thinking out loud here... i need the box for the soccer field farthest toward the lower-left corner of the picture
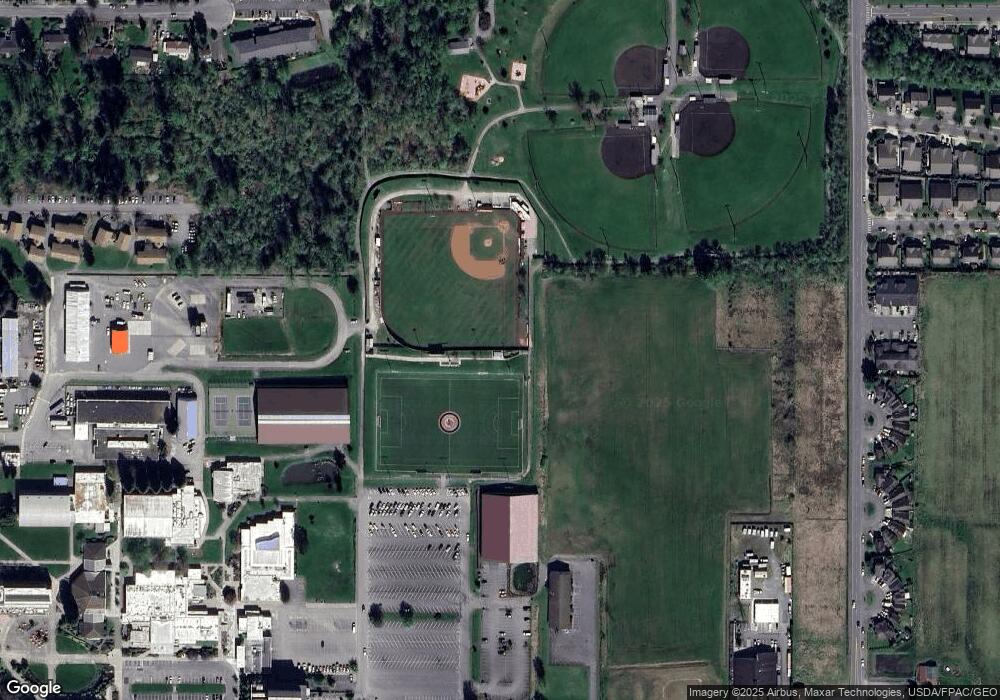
[366,361,528,474]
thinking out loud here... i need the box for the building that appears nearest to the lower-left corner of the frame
[0,581,52,614]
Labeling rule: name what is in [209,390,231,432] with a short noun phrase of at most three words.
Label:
tennis court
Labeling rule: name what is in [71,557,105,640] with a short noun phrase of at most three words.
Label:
building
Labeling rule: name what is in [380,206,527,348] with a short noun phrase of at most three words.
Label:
baseball field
